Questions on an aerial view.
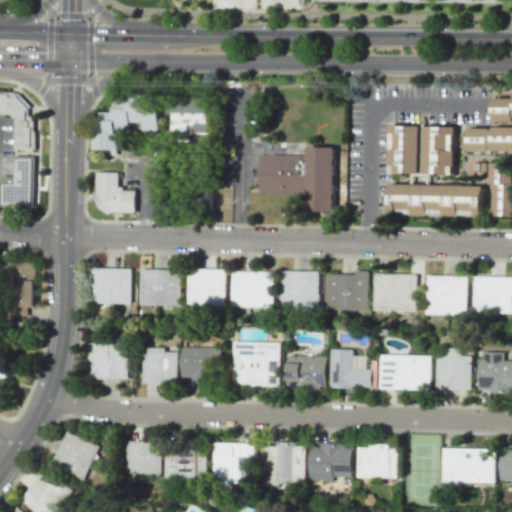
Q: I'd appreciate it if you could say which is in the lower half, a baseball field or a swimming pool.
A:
swimming pool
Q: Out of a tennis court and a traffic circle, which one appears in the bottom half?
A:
tennis court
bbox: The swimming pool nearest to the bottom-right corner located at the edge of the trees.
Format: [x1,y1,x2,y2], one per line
[386,338,410,354]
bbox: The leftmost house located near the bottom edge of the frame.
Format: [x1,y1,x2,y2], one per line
[24,478,68,512]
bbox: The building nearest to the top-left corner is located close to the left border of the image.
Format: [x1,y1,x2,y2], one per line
[0,92,34,152]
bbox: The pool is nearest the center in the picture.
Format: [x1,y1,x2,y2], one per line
[240,328,268,341]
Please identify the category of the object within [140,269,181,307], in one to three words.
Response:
house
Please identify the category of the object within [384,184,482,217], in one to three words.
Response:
building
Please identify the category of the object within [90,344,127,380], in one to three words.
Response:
house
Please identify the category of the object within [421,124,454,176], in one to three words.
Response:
building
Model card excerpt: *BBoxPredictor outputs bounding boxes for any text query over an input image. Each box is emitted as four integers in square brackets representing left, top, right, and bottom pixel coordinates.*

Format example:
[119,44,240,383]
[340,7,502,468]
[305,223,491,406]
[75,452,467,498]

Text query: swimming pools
[386,338,410,354]
[294,330,326,353]
[184,504,205,512]
[240,328,268,341]
[337,330,371,350]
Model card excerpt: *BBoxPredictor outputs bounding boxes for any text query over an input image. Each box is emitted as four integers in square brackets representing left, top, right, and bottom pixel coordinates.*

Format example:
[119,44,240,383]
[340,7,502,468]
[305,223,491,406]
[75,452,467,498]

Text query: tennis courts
[407,434,442,508]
